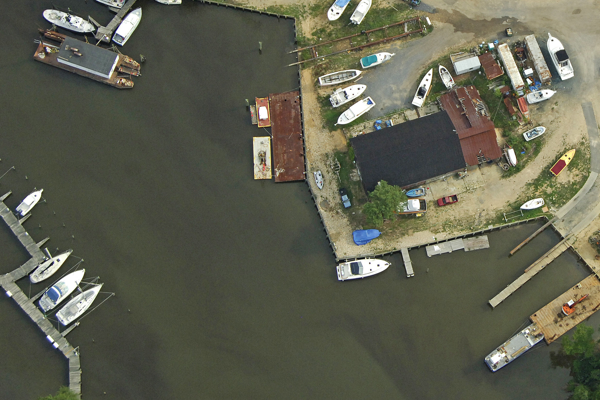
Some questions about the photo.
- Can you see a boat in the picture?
Yes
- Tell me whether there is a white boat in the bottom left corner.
Yes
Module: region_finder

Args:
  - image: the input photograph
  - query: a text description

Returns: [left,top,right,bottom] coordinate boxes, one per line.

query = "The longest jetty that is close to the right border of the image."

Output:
[486,235,579,310]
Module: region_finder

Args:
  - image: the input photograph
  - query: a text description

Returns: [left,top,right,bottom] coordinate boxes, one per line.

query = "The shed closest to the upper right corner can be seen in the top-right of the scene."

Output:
[478,52,503,81]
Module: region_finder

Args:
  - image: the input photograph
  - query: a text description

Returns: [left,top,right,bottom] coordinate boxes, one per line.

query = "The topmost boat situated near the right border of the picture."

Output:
[546,31,575,83]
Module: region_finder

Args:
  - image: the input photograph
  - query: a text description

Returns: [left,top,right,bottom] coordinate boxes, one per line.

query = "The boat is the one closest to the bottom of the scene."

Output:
[484,323,545,373]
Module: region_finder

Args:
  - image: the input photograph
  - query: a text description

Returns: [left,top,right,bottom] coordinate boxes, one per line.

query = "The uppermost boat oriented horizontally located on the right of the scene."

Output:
[360,51,396,70]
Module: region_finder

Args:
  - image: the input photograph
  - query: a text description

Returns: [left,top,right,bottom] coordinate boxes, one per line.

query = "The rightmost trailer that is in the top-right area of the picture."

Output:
[524,34,551,86]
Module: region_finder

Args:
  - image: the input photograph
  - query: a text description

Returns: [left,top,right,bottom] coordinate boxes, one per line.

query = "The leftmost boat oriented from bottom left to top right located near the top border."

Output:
[111,8,142,47]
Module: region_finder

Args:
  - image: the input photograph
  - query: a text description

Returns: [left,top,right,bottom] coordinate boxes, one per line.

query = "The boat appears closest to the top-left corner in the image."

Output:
[42,8,95,32]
